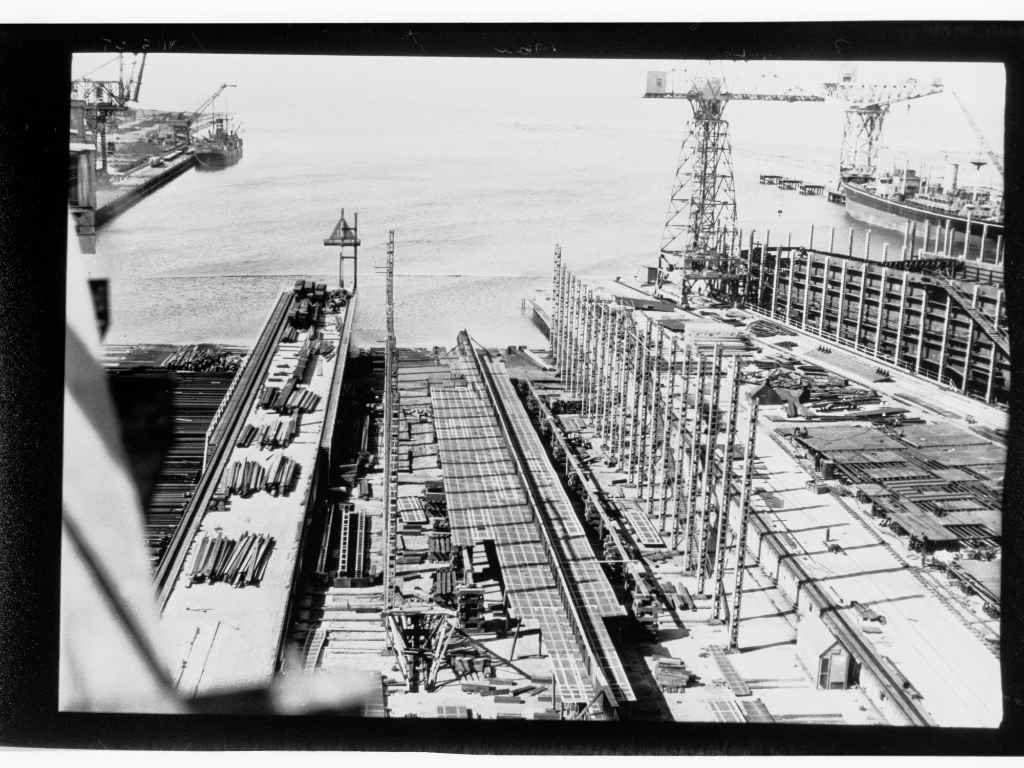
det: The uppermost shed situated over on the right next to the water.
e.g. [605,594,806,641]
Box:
[641,260,662,283]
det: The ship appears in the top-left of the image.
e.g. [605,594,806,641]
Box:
[194,107,236,167]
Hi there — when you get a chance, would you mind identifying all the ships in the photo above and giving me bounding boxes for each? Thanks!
[846,153,1024,253]
[194,107,236,167]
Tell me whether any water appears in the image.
Yes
